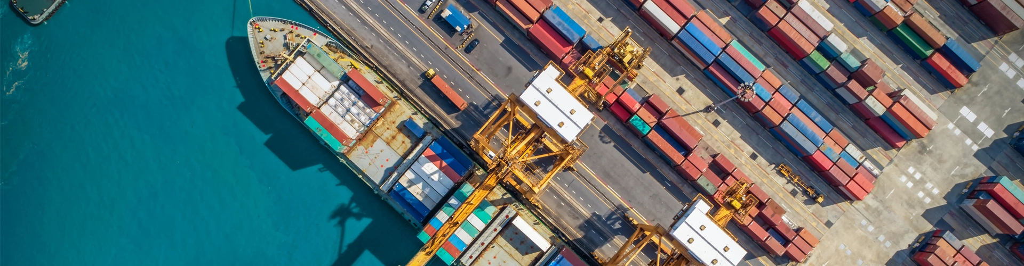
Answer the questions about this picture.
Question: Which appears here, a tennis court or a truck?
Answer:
truck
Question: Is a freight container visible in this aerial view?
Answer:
Yes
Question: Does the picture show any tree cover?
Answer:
No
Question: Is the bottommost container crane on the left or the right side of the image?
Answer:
right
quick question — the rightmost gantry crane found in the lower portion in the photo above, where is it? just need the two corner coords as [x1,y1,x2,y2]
[597,181,763,266]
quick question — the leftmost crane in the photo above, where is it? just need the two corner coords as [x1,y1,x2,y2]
[403,47,612,266]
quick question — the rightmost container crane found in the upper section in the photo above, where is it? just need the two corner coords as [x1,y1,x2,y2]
[582,25,654,108]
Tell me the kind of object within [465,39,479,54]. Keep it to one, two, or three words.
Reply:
car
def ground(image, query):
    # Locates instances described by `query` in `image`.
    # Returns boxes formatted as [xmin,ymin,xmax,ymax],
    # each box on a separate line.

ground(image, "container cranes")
[597,181,763,266]
[403,47,612,266]
[582,25,654,108]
